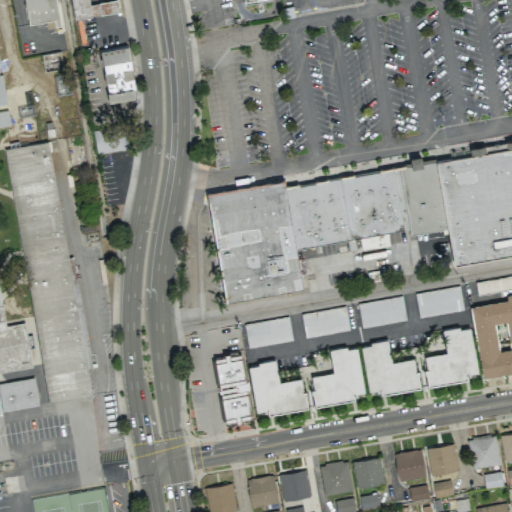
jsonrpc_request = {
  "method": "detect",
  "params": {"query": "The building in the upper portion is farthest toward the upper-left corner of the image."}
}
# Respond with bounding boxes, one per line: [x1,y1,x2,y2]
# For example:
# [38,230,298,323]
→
[28,0,64,34]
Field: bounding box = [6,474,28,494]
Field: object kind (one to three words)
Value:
shed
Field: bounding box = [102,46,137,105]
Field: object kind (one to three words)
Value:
building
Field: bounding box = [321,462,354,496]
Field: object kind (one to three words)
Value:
house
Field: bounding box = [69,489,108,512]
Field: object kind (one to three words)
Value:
tennis court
